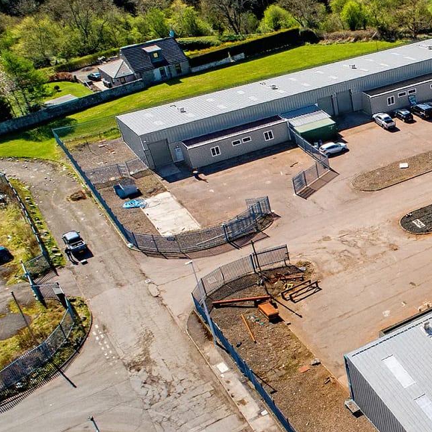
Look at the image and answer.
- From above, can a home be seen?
Yes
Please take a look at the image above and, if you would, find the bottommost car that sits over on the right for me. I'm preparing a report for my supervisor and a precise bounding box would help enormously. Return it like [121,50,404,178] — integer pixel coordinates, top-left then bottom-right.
[319,140,347,154]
